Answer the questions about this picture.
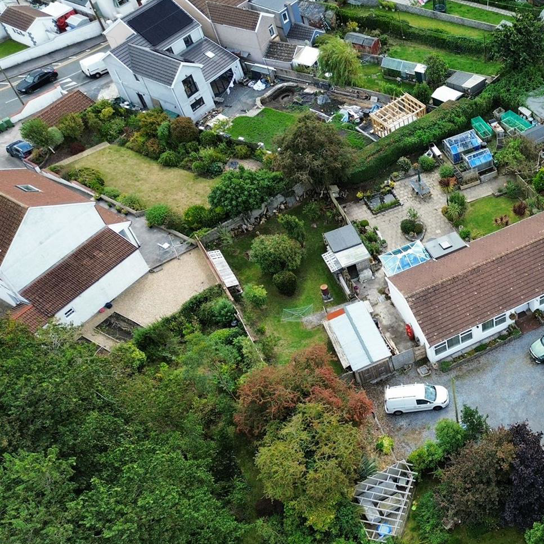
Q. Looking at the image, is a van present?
Yes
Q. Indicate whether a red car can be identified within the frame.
No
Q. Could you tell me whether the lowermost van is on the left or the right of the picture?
right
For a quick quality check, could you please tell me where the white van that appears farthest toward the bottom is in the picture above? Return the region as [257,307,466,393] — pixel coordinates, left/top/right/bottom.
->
[384,384,448,421]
